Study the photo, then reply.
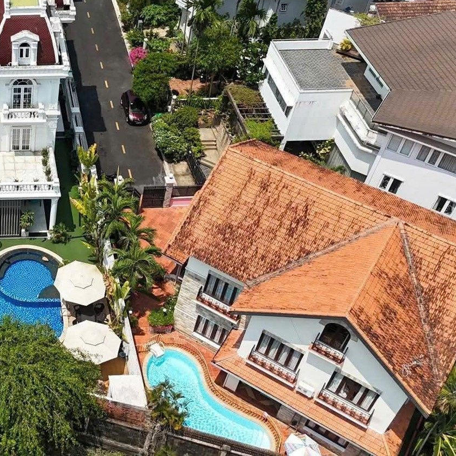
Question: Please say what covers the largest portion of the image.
buildings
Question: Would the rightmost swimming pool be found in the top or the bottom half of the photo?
bottom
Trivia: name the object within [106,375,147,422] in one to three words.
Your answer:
shed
